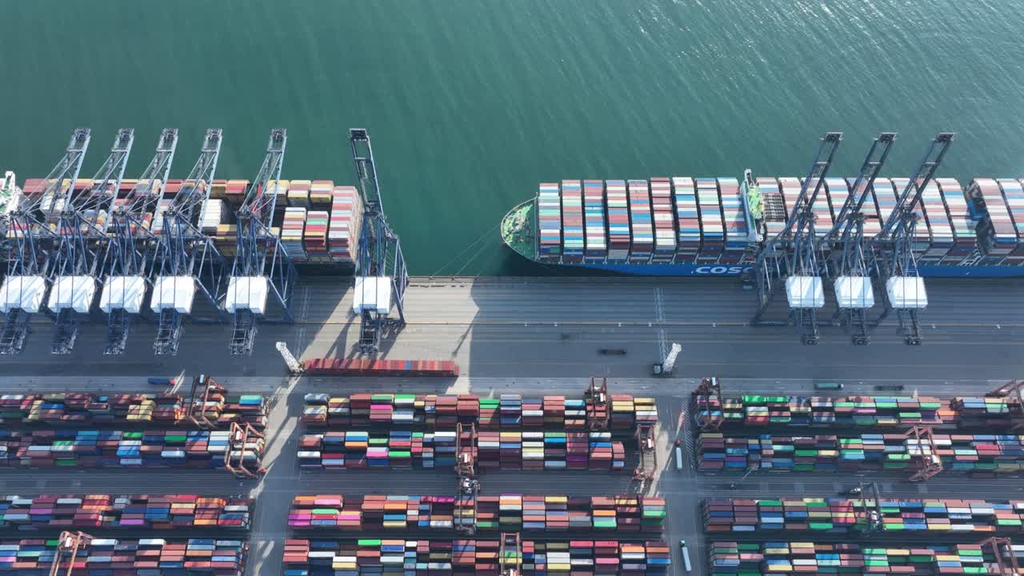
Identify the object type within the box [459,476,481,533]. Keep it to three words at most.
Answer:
container crane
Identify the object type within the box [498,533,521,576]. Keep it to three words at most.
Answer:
container crane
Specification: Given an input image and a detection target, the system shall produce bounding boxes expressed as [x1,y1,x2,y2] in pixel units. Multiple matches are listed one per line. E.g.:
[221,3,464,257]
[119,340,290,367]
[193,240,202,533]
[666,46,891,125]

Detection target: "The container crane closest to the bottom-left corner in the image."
[54,532,104,576]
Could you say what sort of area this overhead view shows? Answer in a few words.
port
